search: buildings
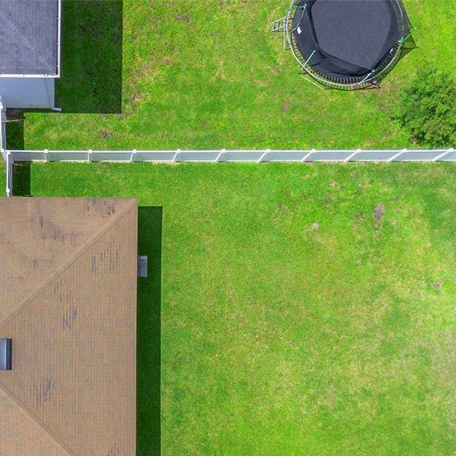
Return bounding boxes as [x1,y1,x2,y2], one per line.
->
[0,0,63,114]
[0,197,146,456]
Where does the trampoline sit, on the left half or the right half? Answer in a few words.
right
